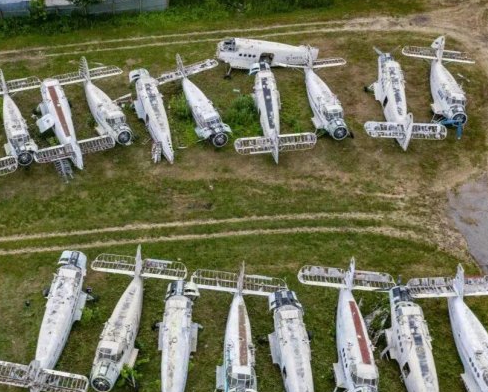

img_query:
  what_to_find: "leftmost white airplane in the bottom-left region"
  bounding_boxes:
[0,250,97,392]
